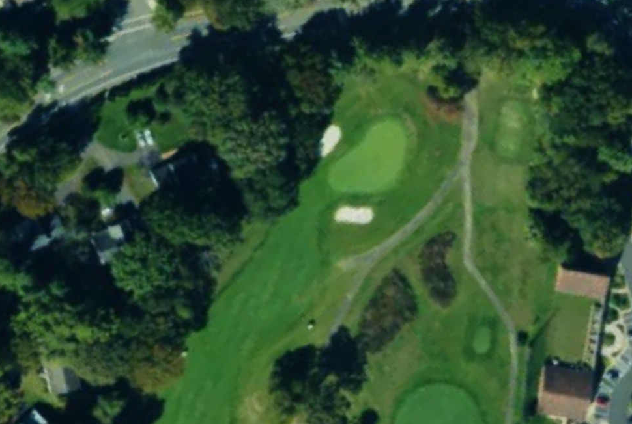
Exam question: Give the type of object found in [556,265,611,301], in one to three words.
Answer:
building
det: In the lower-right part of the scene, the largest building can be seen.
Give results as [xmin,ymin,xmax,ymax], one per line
[536,361,596,419]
